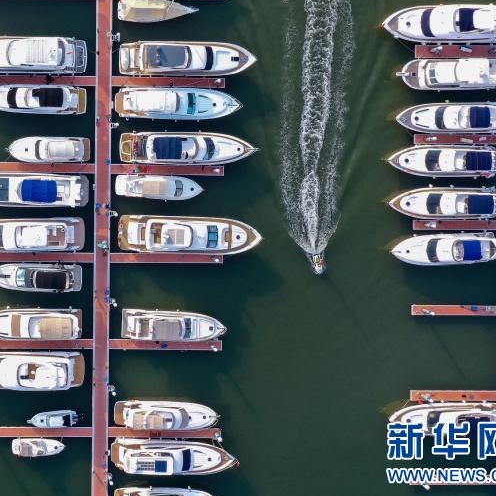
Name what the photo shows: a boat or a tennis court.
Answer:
boat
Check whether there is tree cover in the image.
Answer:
No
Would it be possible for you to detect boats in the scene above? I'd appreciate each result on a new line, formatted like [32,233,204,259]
[109,172,205,204]
[386,145,496,178]
[8,133,93,166]
[109,214,265,255]
[386,186,496,219]
[387,399,496,437]
[0,349,93,393]
[0,261,91,296]
[109,128,260,168]
[397,58,496,92]
[110,483,213,496]
[110,396,219,434]
[0,215,93,255]
[111,84,243,122]
[389,232,496,265]
[0,170,92,210]
[380,5,496,46]
[0,33,93,76]
[12,437,66,458]
[110,435,240,479]
[109,307,227,345]
[0,82,92,117]
[27,410,80,431]
[393,101,496,133]
[0,305,93,341]
[311,253,323,273]
[110,39,258,80]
